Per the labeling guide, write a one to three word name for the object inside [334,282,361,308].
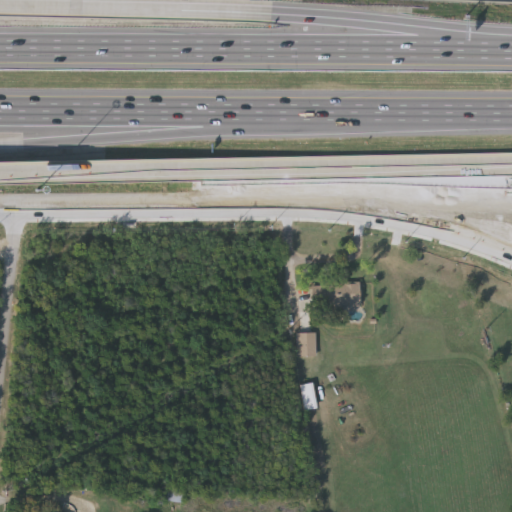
house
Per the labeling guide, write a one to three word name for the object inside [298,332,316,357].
barn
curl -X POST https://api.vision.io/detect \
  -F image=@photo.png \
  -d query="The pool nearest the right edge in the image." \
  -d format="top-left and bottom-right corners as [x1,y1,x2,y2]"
[350,308,366,323]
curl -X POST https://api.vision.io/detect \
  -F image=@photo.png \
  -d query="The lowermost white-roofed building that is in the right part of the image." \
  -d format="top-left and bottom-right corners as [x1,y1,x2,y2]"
[300,382,318,410]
